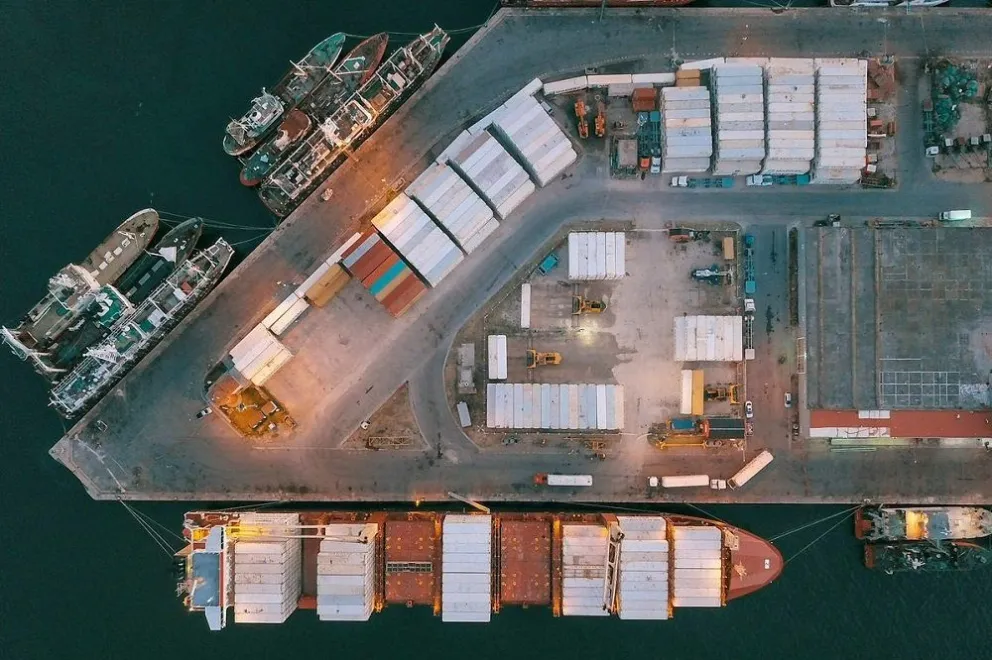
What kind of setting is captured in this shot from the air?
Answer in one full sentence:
The picture captures a port.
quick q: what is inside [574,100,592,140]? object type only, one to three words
work vehicle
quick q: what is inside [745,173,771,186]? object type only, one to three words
vehicle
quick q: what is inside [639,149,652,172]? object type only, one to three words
vehicle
